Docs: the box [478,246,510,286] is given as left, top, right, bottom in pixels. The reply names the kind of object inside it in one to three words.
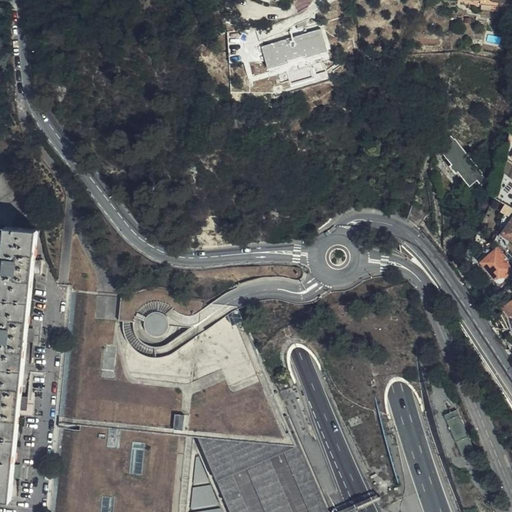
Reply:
house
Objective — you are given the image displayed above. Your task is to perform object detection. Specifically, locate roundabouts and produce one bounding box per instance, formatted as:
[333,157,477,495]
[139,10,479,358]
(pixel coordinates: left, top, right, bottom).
[307,226,370,288]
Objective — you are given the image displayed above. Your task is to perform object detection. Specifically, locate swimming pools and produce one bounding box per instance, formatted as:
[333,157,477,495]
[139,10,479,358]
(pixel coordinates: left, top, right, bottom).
[484,31,501,46]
